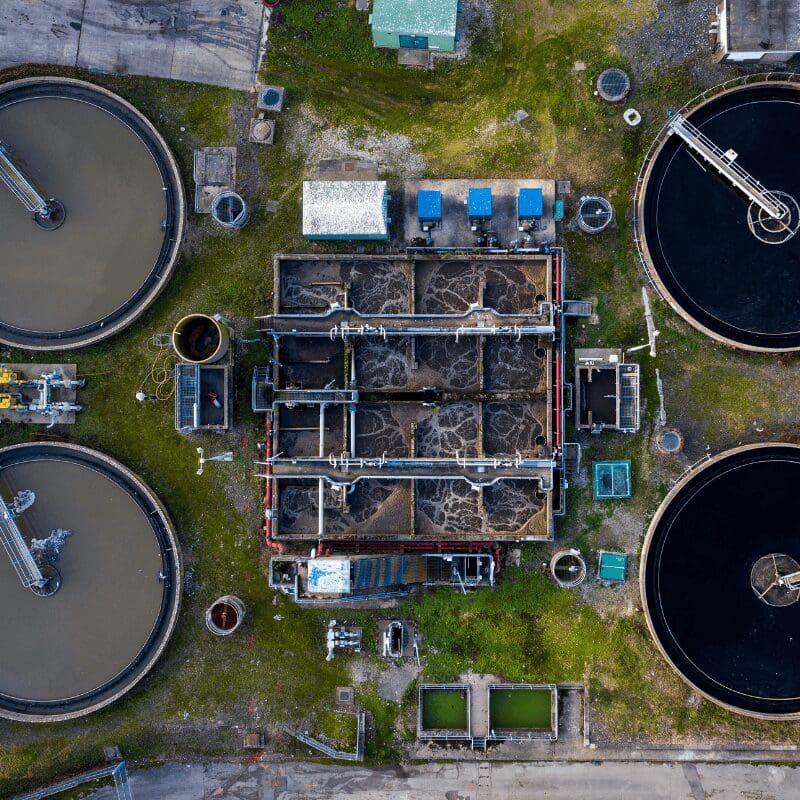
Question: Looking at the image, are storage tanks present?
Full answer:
Yes, there's a storage tank down there.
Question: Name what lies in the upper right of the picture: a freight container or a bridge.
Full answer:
Looking in the upper right of the picture, you will find a bridge.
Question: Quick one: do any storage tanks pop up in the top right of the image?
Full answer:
Yes, a storage tank is visible in the top right of the image.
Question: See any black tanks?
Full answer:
Yes, a black tank can be made out from above.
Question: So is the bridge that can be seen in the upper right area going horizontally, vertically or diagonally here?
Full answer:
The bridge that can be seen in the upper right area has been laid out diagonally relative to the frame.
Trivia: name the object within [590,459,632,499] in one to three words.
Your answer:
storage tank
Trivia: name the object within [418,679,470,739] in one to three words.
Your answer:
pond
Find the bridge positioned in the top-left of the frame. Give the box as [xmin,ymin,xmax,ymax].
[0,150,52,217]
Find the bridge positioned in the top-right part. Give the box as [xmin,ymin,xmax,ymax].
[677,119,783,220]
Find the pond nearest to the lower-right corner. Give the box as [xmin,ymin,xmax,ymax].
[486,679,558,739]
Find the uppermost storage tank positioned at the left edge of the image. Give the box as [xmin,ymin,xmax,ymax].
[0,77,190,353]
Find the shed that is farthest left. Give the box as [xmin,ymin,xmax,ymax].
[302,180,388,240]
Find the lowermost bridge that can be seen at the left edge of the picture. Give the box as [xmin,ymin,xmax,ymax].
[0,477,49,578]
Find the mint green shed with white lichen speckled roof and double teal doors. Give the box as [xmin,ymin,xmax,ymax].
[369,0,463,49]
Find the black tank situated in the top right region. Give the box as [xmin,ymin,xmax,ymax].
[630,65,800,354]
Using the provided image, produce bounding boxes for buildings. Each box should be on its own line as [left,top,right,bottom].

[708,0,800,64]
[302,180,388,240]
[369,0,463,49]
